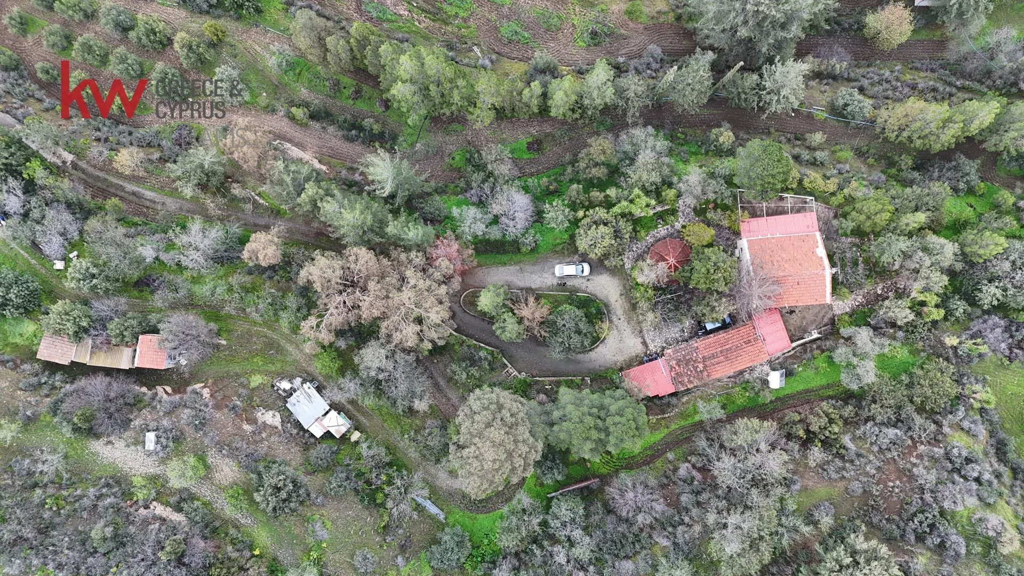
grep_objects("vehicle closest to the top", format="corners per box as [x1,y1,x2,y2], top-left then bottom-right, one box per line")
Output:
[554,261,590,278]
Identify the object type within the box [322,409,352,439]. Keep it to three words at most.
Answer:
shed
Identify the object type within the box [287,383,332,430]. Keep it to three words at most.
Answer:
shed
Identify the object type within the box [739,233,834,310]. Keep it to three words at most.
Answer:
house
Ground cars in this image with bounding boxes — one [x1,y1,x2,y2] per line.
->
[695,314,733,336]
[554,261,590,278]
